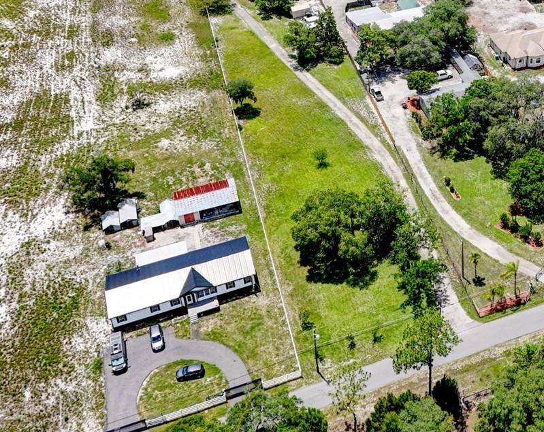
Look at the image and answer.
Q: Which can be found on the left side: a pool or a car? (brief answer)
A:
car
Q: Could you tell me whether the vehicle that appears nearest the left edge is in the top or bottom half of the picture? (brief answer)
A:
bottom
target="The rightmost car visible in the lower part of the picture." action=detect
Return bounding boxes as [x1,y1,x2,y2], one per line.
[174,361,208,382]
